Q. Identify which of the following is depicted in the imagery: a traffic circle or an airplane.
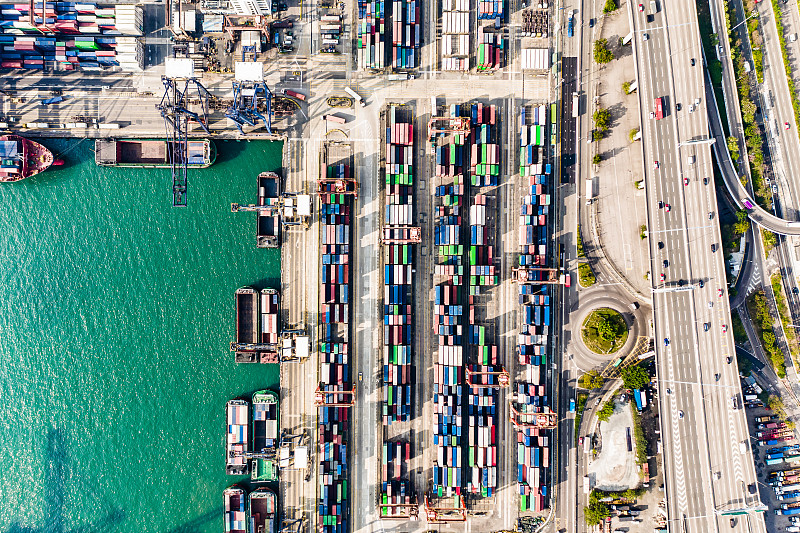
traffic circle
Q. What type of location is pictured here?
port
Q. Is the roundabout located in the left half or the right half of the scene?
right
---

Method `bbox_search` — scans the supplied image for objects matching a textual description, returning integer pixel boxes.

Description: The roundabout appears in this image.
[566,292,645,370]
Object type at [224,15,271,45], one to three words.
container crane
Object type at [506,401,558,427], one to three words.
container crane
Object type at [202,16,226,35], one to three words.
shed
